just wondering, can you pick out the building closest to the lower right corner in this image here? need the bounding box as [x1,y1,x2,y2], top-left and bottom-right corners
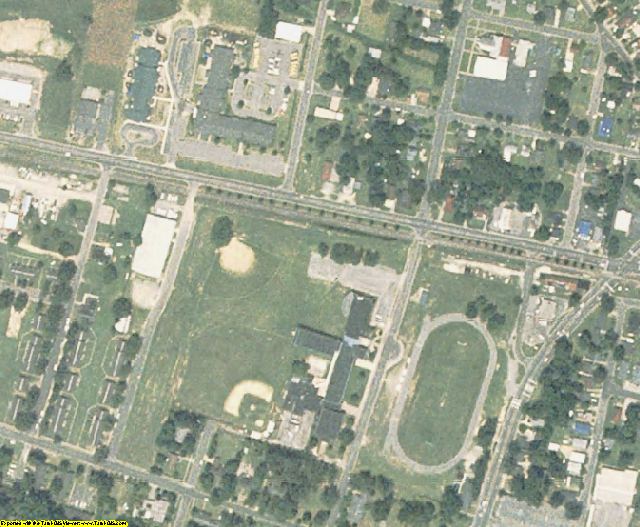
[596,469,639,506]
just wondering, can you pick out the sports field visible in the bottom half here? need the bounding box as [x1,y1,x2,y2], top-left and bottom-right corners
[401,323,488,464]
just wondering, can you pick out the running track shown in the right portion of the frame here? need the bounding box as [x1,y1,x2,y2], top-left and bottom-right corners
[392,313,497,474]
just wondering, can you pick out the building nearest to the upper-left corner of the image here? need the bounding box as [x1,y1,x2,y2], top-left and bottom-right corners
[0,78,33,107]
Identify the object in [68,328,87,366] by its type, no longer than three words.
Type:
building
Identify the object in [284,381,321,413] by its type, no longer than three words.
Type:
building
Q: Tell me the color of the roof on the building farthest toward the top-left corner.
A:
white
